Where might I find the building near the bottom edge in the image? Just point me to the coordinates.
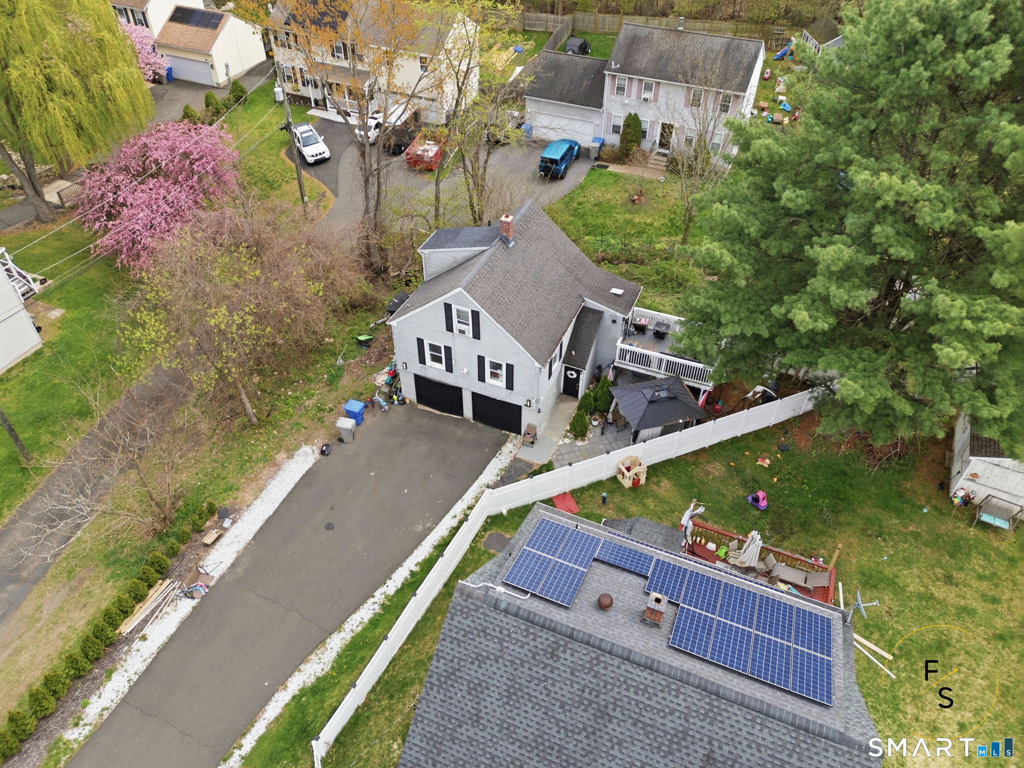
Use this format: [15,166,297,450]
[401,499,872,768]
